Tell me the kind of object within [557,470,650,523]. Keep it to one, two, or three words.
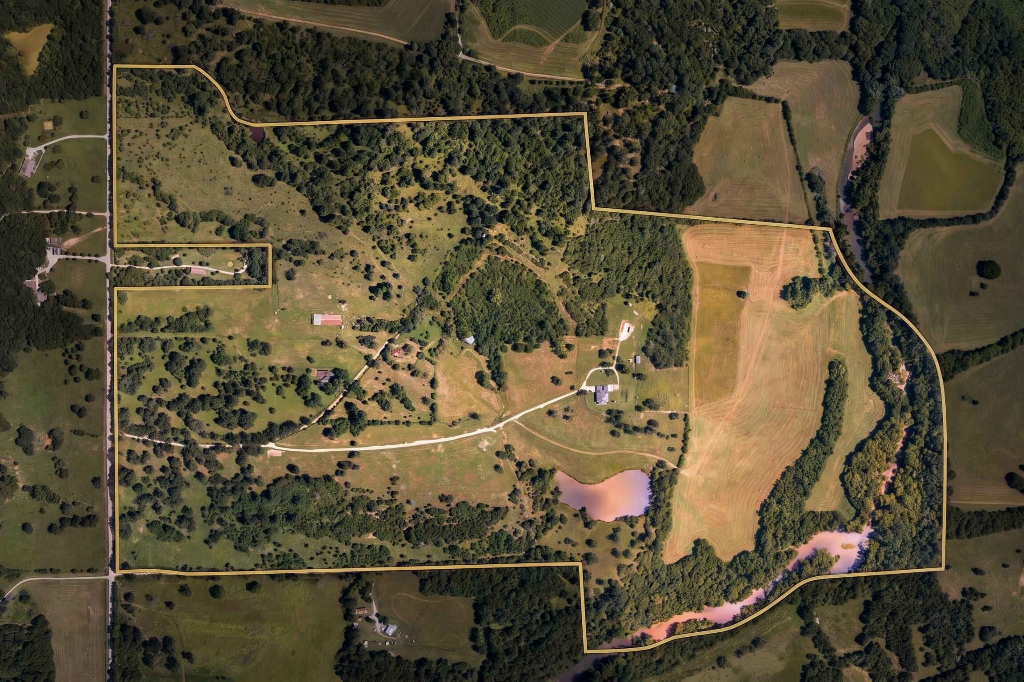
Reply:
pond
